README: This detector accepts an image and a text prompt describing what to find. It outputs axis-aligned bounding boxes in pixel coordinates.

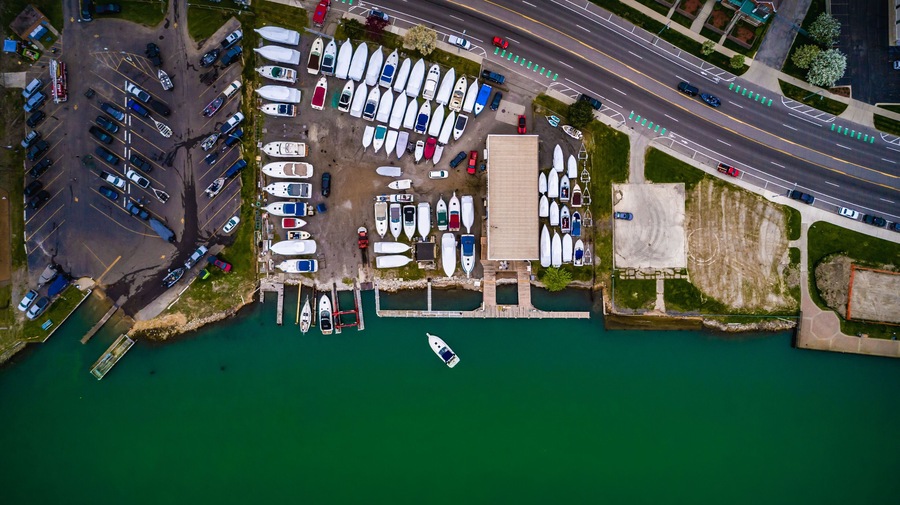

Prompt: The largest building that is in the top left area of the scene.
[9,5,57,43]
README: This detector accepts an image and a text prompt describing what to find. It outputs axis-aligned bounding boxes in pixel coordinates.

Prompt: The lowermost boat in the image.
[426,333,460,367]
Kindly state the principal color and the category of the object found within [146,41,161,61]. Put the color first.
black car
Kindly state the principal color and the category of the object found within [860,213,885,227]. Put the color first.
black vehicle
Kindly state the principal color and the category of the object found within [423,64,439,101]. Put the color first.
white boat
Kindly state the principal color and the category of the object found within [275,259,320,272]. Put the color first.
white boat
